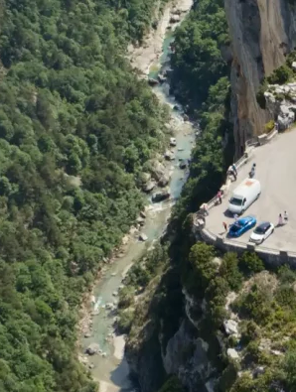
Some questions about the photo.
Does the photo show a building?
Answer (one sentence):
No, no building is visible in the view.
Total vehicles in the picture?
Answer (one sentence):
My tally gives 3 vehicles in this view.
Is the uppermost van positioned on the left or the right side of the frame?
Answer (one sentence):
The uppermost van appears in the right half of the scene.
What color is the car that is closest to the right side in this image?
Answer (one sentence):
In this view, the car that is closest to the right side is white.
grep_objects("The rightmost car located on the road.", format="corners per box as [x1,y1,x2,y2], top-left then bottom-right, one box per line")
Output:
[248,216,276,242]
